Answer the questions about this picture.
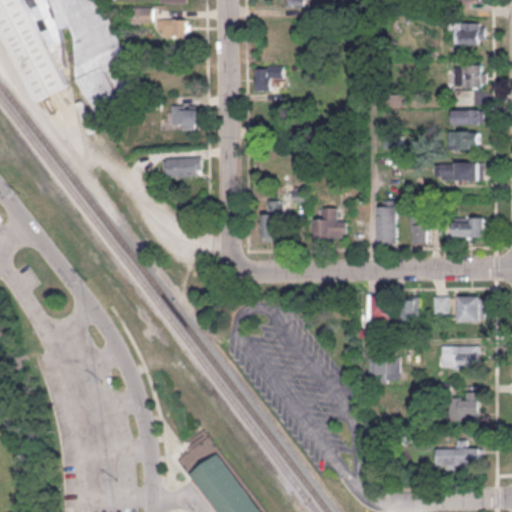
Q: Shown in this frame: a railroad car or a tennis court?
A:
railroad car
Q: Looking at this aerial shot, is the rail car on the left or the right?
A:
left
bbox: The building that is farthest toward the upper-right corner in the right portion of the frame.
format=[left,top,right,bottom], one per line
[444,24,488,46]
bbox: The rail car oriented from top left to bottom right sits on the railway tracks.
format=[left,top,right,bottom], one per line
[160,296,188,331]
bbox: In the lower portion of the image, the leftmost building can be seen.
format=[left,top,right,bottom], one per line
[190,454,263,512]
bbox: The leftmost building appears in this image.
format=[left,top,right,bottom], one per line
[0,0,74,104]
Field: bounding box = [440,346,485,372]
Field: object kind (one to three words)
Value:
house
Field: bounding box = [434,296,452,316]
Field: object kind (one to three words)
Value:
building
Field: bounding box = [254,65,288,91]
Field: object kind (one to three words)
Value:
house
